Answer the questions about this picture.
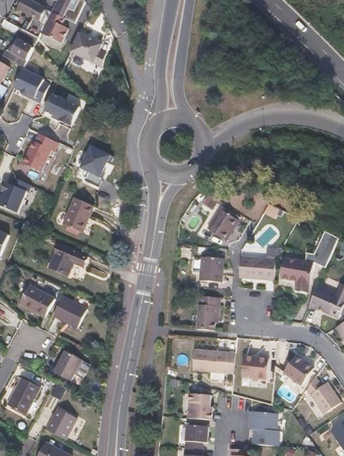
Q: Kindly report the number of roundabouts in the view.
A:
1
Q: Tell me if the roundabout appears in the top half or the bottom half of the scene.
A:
top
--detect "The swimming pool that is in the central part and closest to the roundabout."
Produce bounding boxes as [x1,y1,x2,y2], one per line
[188,212,204,230]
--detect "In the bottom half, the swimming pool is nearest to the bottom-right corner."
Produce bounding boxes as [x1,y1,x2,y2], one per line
[277,386,298,403]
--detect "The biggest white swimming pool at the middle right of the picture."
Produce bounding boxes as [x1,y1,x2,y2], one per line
[255,224,280,248]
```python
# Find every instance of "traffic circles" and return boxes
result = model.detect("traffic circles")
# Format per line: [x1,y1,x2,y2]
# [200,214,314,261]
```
[142,110,212,182]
